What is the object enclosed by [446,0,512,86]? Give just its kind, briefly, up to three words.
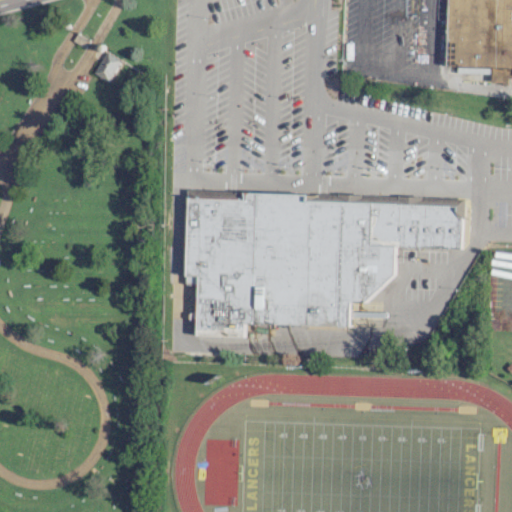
building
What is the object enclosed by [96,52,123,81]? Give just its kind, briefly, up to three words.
house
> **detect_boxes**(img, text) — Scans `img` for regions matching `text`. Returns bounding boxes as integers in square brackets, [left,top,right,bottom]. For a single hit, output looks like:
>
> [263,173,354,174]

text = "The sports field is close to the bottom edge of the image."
[242,418,481,512]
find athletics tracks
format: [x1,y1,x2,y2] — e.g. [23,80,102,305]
[175,374,512,512]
